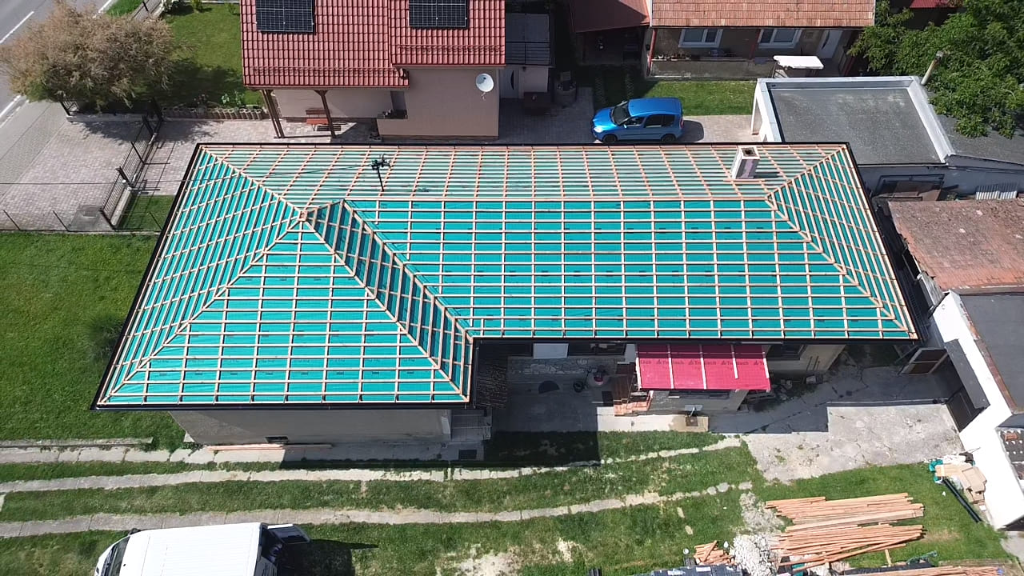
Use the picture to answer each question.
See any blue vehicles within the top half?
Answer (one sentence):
Yes, within the top half there is a blue vehicle.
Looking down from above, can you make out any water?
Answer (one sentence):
No, the picture contains no water.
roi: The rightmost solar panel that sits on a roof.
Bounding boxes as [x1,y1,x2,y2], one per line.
[409,0,467,28]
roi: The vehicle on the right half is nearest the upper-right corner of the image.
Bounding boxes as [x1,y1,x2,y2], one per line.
[592,96,687,141]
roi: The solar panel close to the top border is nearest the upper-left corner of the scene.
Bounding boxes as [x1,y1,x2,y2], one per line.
[254,0,314,32]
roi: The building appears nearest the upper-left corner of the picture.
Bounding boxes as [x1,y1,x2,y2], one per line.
[240,0,507,138]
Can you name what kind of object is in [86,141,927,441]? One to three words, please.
house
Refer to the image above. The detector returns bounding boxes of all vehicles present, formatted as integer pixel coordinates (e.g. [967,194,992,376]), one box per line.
[592,96,687,141]
[92,521,311,576]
